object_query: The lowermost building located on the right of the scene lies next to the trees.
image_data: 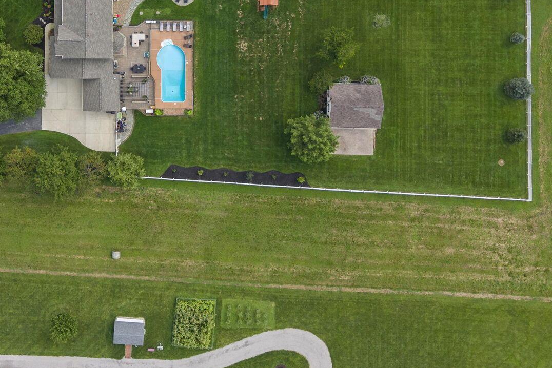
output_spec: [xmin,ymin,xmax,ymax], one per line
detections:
[327,83,384,129]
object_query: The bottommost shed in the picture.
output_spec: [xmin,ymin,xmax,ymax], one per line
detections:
[113,320,144,351]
